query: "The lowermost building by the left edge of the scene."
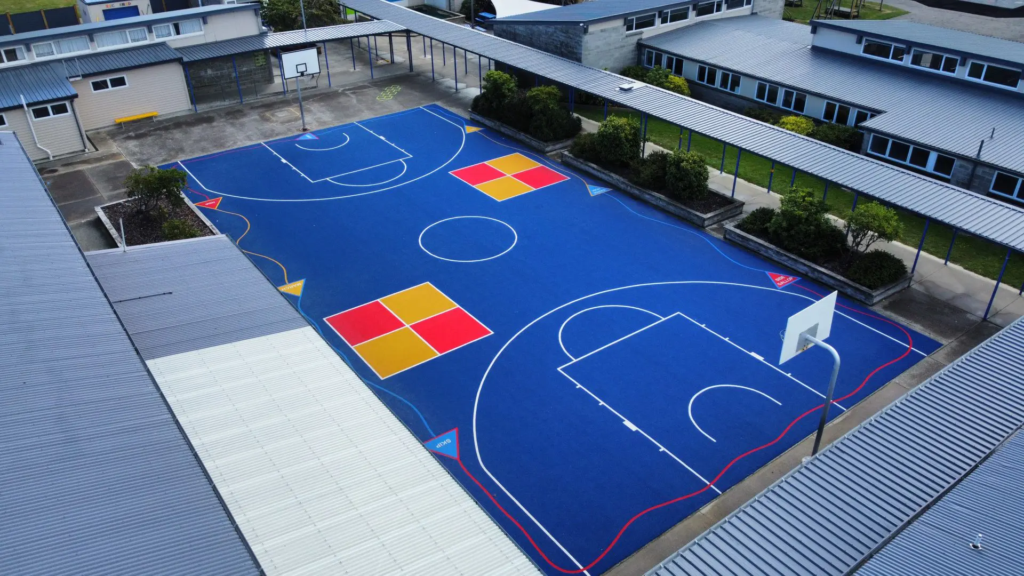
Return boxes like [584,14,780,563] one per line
[0,130,266,576]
